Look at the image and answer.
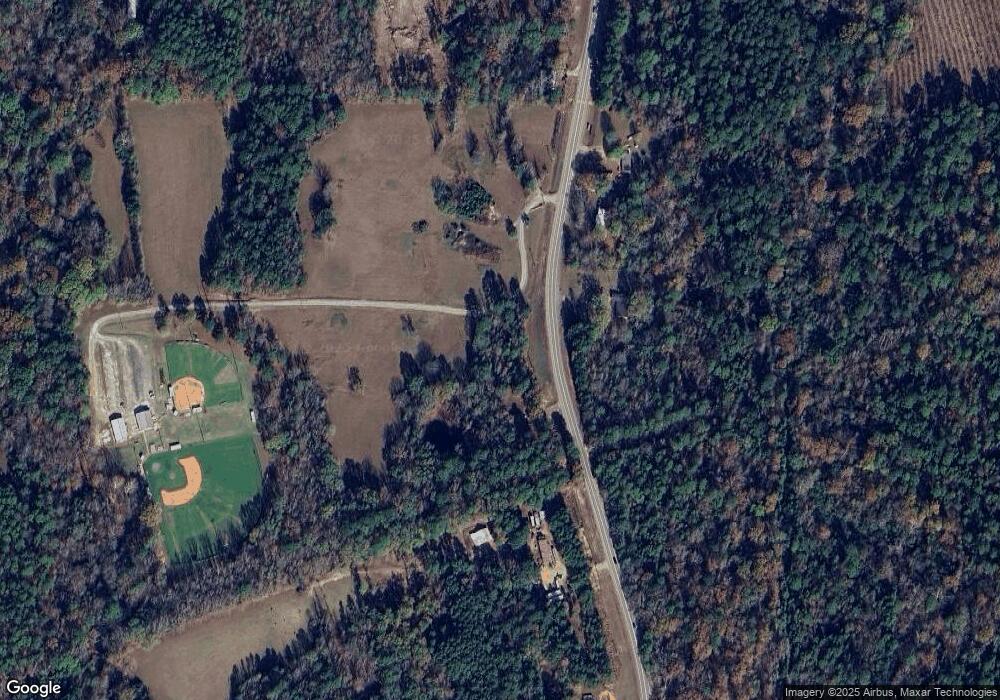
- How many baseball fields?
2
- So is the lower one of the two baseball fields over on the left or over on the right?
left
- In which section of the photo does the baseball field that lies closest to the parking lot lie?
left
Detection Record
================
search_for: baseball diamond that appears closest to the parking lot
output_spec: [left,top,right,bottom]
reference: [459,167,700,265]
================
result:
[165,344,243,413]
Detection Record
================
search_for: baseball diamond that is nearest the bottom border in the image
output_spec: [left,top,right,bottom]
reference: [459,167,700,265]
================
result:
[146,436,265,561]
